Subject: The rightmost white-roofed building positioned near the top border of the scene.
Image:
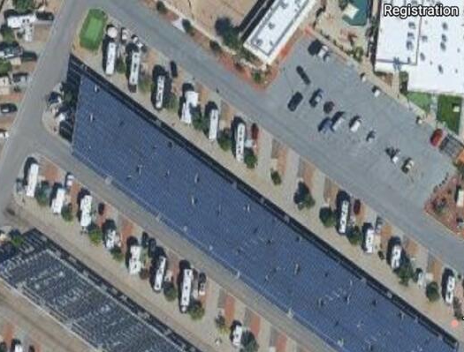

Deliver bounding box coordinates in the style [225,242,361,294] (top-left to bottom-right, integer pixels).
[374,0,464,92]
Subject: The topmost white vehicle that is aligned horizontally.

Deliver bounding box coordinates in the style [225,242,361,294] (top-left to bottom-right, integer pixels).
[5,13,36,27]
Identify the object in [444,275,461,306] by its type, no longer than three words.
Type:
vehicle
